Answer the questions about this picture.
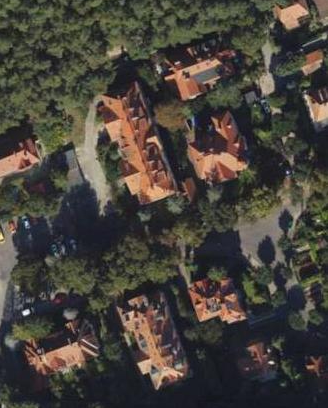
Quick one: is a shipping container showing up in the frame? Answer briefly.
No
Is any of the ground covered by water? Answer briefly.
No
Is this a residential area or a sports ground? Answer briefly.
residential area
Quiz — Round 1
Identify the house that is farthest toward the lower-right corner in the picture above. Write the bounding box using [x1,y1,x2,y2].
[299,348,328,383]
